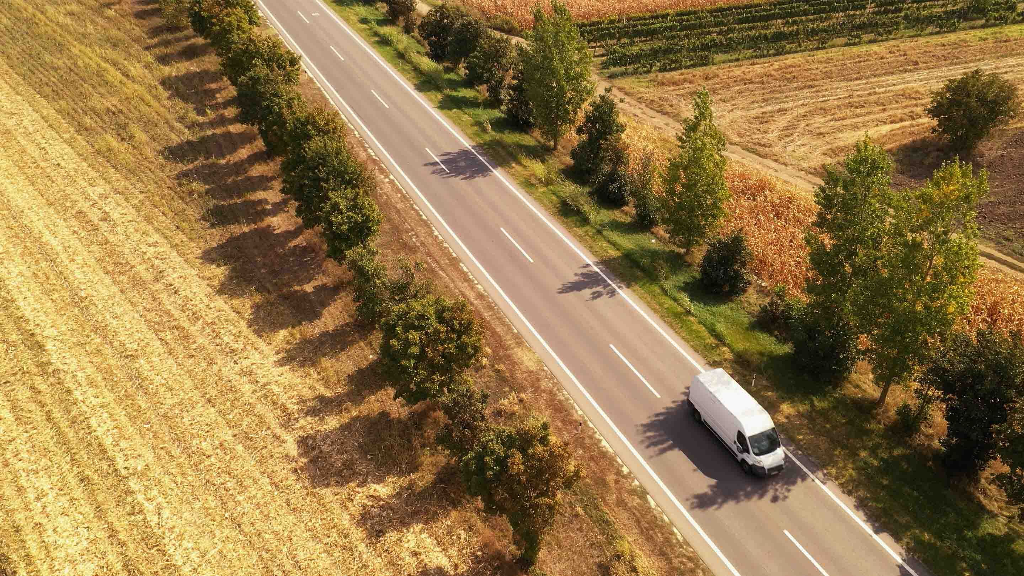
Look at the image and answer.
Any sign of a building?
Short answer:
No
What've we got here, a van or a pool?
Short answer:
van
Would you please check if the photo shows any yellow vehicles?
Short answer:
No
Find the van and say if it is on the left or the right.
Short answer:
right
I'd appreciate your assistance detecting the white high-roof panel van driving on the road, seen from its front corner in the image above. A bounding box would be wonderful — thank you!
[685,362,792,480]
